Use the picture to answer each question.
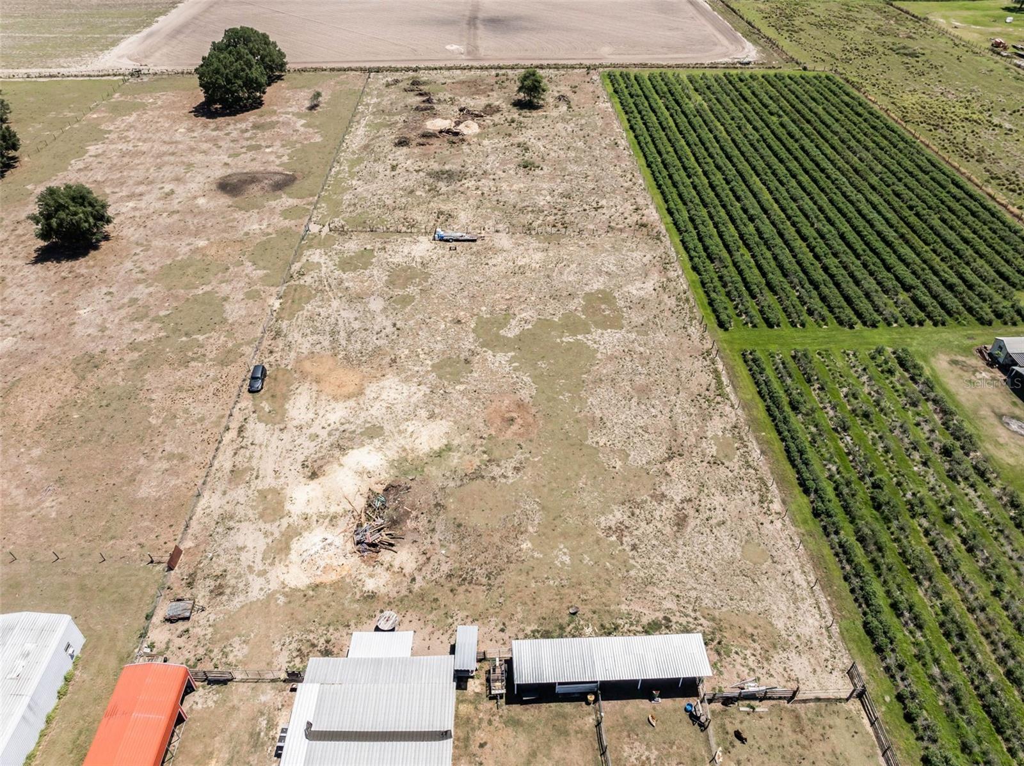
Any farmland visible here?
Yes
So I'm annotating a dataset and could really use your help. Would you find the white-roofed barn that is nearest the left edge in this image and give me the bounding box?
[0,610,85,766]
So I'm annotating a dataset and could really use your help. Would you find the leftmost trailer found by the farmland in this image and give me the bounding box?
[159,591,207,623]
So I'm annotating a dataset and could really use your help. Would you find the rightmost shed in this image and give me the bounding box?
[989,334,1024,367]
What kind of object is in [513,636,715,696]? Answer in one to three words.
shed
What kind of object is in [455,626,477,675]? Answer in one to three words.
shed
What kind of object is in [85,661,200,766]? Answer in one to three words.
barn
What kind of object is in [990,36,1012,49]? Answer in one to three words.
vehicle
